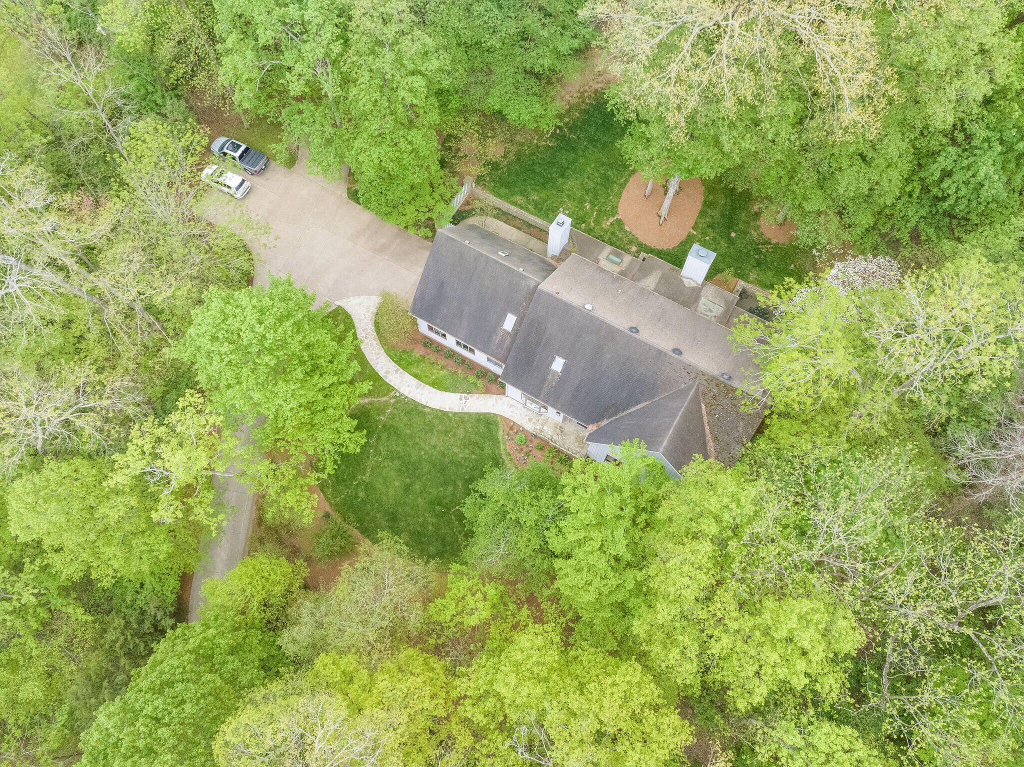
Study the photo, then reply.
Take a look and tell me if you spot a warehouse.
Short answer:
No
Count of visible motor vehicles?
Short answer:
2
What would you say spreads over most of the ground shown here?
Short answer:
trees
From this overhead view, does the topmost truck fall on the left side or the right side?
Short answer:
left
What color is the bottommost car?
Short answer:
white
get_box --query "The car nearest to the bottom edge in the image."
[198,170,250,205]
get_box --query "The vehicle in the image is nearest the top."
[209,134,272,177]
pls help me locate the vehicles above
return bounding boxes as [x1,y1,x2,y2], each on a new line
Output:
[209,134,272,177]
[198,170,250,205]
